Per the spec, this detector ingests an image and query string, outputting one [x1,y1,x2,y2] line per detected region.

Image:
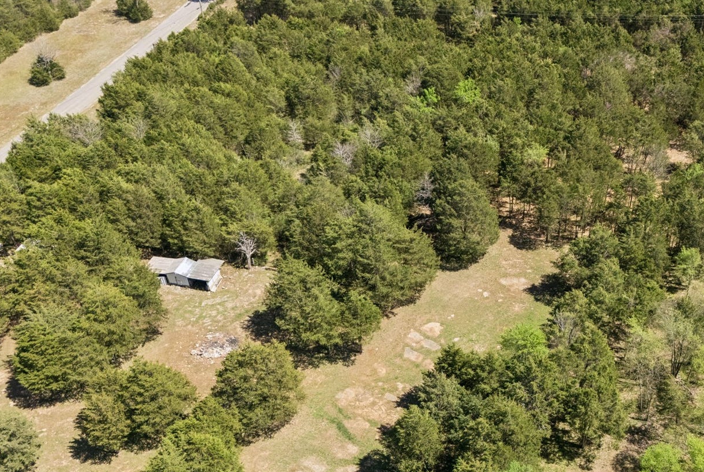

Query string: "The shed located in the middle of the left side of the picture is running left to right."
[144,254,231,294]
